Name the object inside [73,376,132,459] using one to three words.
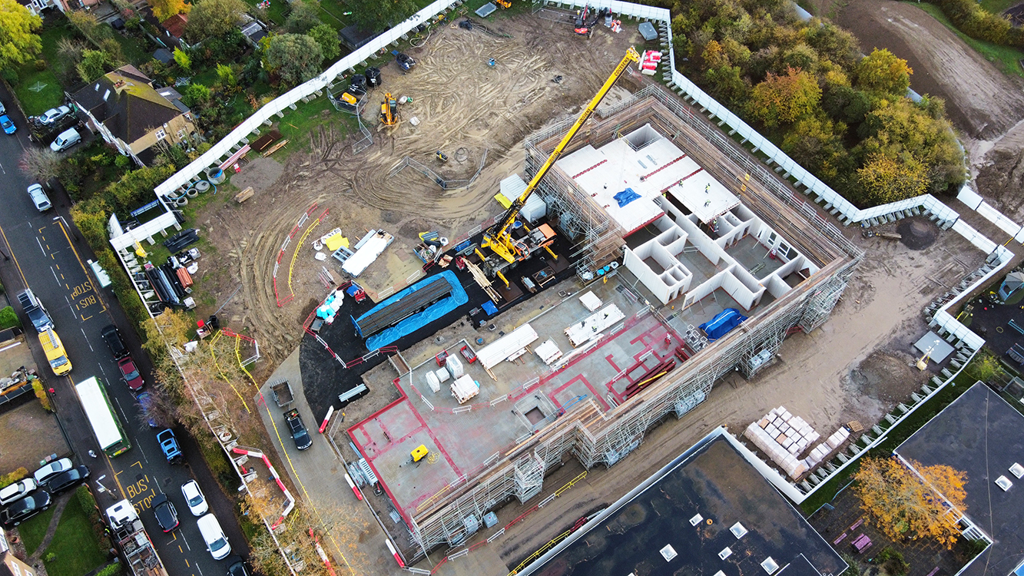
bus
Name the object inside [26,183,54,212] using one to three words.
car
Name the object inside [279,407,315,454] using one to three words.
truck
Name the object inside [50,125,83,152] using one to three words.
vehicle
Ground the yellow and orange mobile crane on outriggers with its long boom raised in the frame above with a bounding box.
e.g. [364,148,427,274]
[477,42,646,322]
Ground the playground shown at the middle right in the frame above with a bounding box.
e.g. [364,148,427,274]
[951,263,1024,387]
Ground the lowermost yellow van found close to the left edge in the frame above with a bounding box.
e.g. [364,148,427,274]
[33,327,72,379]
